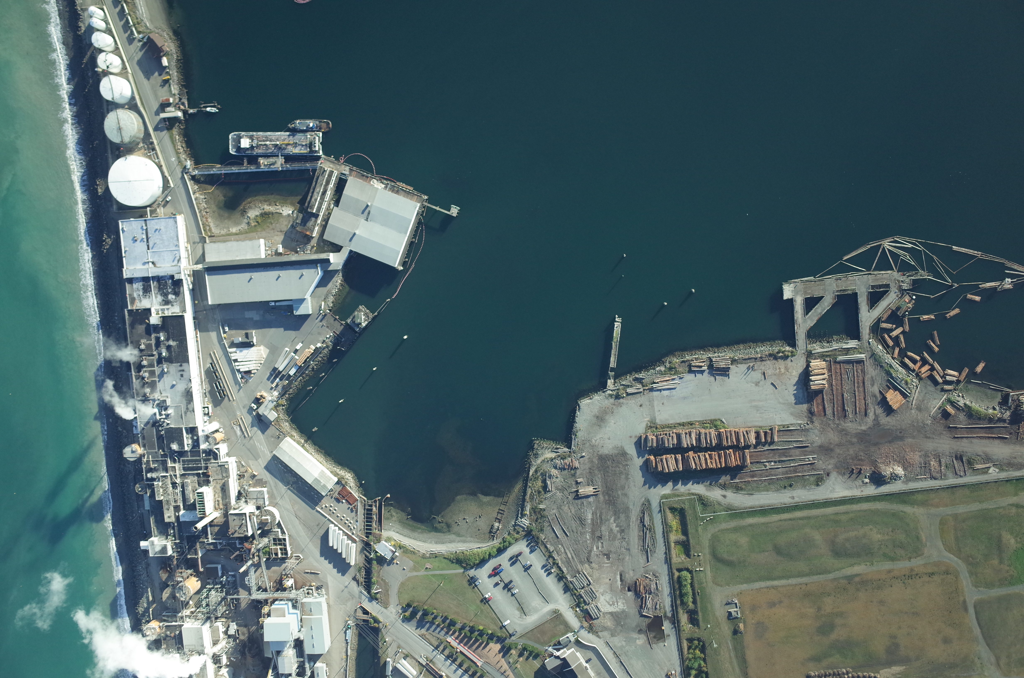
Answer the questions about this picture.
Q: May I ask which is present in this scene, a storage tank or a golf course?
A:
storage tank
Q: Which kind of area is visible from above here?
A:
port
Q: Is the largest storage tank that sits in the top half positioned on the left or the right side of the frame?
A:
left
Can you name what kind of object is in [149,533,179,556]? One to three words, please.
building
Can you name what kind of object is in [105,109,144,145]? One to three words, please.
storage tank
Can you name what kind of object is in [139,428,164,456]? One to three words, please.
building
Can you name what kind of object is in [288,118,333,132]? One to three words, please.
boat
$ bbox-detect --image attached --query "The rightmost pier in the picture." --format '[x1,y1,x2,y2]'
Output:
[781,273,902,353]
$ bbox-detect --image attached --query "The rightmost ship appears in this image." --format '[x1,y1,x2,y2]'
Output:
[891,291,916,317]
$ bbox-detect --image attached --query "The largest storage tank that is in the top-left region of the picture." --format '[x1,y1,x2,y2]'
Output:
[110,157,162,206]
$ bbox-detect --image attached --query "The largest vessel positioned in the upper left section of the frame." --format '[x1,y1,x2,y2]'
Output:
[229,132,324,156]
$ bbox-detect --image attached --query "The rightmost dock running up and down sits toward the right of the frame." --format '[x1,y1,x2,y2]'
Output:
[607,316,622,387]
